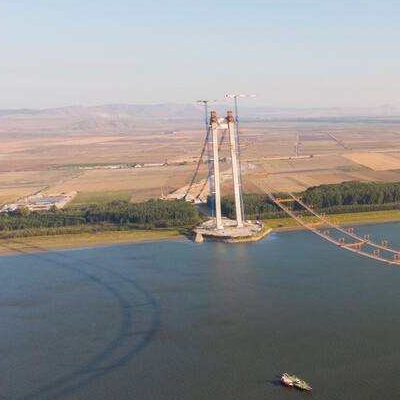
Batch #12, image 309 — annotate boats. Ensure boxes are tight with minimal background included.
[278,376,296,389]
[289,377,315,390]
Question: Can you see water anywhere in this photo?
Yes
